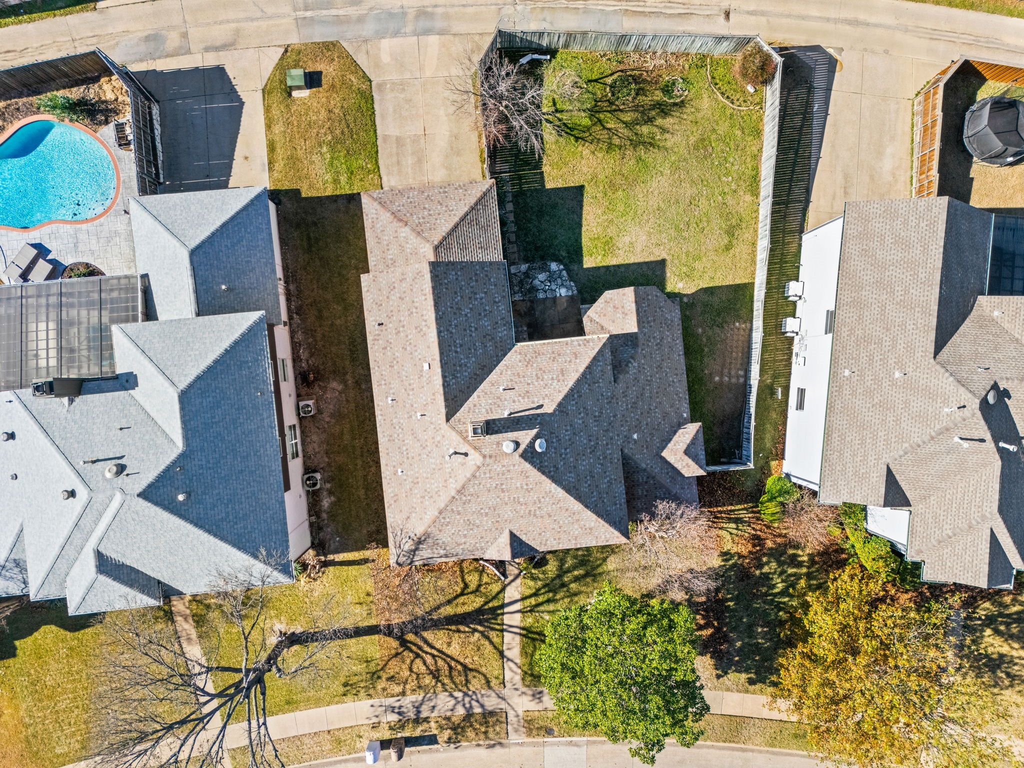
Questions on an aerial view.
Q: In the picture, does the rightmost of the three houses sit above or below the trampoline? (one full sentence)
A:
The rightmost of the three houses appears below the trampoline in the picture.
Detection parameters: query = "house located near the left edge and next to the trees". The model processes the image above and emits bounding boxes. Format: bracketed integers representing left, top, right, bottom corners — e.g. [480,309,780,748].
[0,185,311,617]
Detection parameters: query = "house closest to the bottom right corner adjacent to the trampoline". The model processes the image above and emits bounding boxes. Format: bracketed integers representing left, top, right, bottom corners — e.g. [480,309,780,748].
[781,196,1024,589]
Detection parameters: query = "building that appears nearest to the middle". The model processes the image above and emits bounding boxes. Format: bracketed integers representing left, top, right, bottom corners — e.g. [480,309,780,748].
[360,179,708,568]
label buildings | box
[360,179,708,568]
[0,185,311,617]
[781,196,1024,589]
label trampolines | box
[949,86,1024,173]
